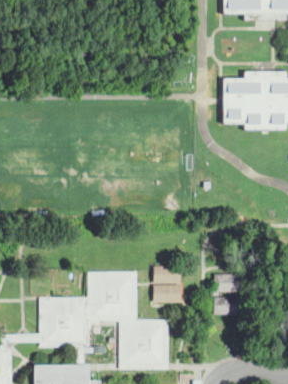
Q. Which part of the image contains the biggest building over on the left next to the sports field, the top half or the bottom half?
bottom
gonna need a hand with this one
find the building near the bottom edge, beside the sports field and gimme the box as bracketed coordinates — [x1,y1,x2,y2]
[38,272,168,370]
